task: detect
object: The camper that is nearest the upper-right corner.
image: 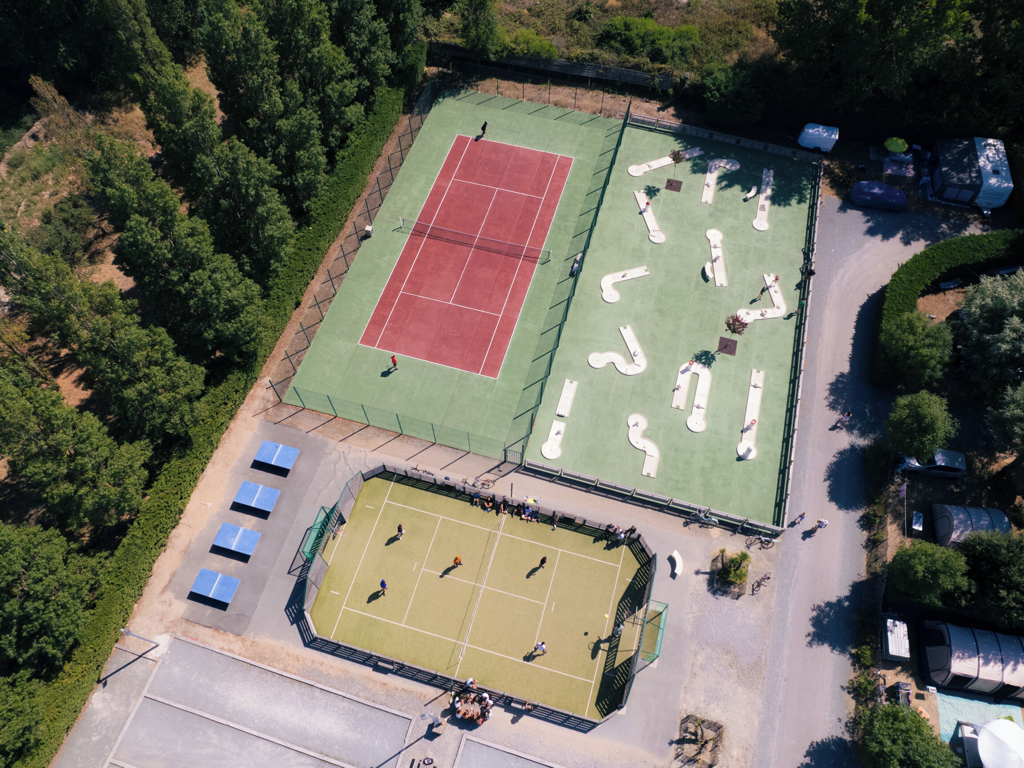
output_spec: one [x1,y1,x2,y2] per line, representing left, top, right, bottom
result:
[970,140,1011,218]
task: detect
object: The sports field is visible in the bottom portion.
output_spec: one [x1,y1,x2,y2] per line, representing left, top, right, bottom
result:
[308,470,659,723]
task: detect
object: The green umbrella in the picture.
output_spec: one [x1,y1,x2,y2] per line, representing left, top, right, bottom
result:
[883,138,908,164]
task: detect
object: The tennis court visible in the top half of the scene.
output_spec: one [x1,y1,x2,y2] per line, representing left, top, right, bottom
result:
[282,88,623,465]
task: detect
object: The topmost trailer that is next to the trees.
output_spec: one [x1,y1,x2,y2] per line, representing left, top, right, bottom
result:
[787,124,839,152]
